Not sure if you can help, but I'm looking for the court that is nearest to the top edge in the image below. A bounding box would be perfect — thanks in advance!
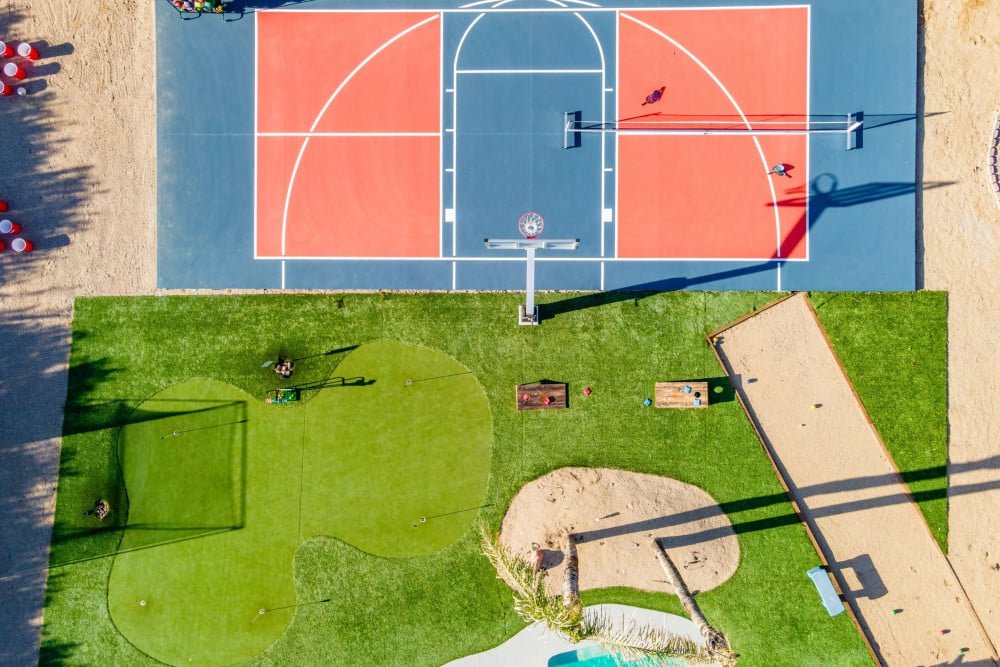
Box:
[155,0,918,291]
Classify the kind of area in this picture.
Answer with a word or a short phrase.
sports ground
